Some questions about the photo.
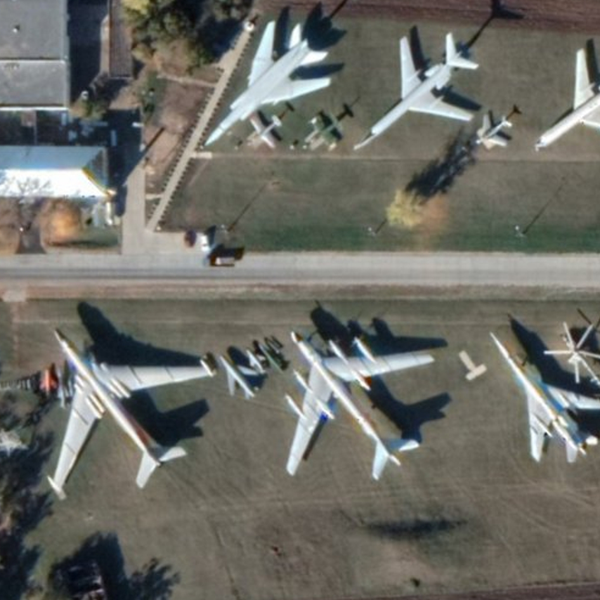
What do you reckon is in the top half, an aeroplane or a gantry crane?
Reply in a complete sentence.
Looking in the top half, you will find an aeroplane.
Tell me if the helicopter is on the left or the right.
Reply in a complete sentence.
The helicopter sits on the right side.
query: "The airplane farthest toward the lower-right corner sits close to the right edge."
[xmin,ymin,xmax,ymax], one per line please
[489,332,600,464]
